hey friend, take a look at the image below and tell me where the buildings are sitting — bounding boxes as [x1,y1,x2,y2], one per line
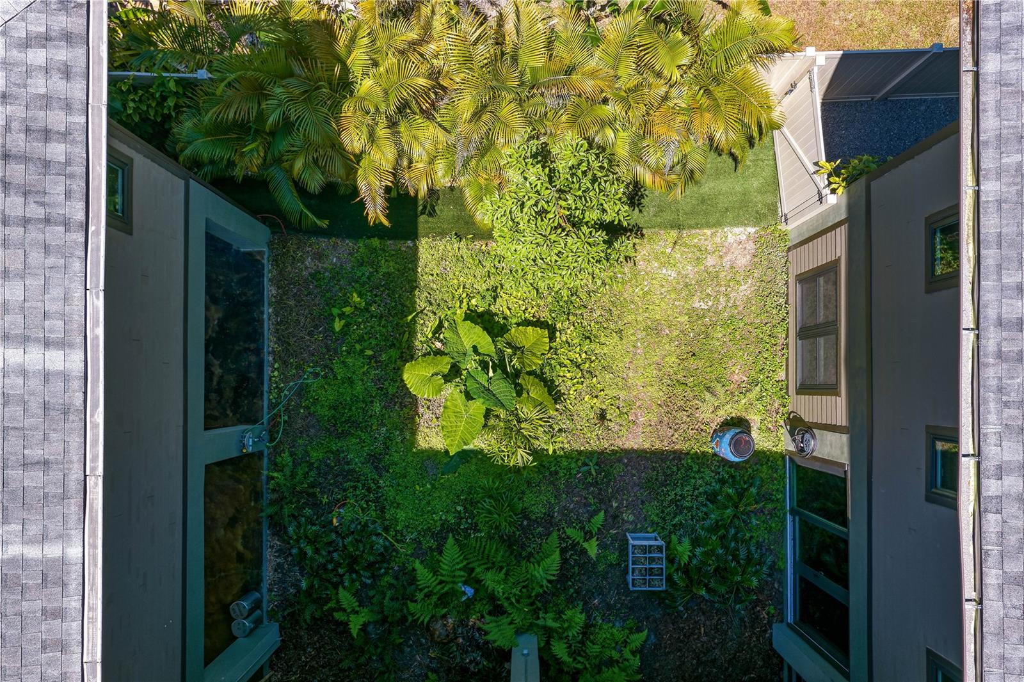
[776,0,1024,682]
[0,0,279,682]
